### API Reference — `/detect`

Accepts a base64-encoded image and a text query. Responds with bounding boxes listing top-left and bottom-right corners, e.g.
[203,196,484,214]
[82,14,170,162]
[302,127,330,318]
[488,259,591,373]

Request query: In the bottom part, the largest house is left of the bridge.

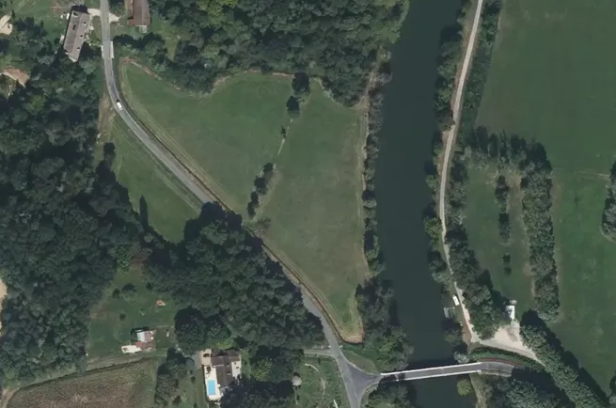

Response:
[210,350,240,390]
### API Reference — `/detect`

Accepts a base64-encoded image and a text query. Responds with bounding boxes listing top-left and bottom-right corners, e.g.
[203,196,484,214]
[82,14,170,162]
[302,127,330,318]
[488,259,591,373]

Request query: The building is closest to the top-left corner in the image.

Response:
[64,8,89,61]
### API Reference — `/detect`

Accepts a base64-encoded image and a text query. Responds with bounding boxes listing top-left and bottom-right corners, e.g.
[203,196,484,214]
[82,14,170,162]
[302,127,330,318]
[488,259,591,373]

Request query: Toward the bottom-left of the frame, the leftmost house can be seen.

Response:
[136,330,156,350]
